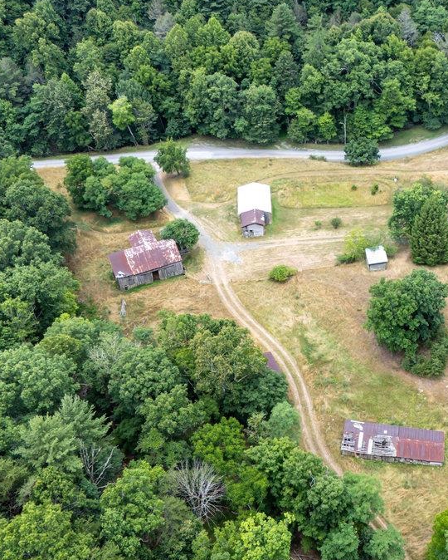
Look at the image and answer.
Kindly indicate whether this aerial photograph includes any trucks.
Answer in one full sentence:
No, there is no truck in the image.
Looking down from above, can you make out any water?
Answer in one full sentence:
No, water can't be seen anywhere here.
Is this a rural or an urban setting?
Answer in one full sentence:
The area is rural.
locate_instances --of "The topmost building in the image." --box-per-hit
[237,180,274,239]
